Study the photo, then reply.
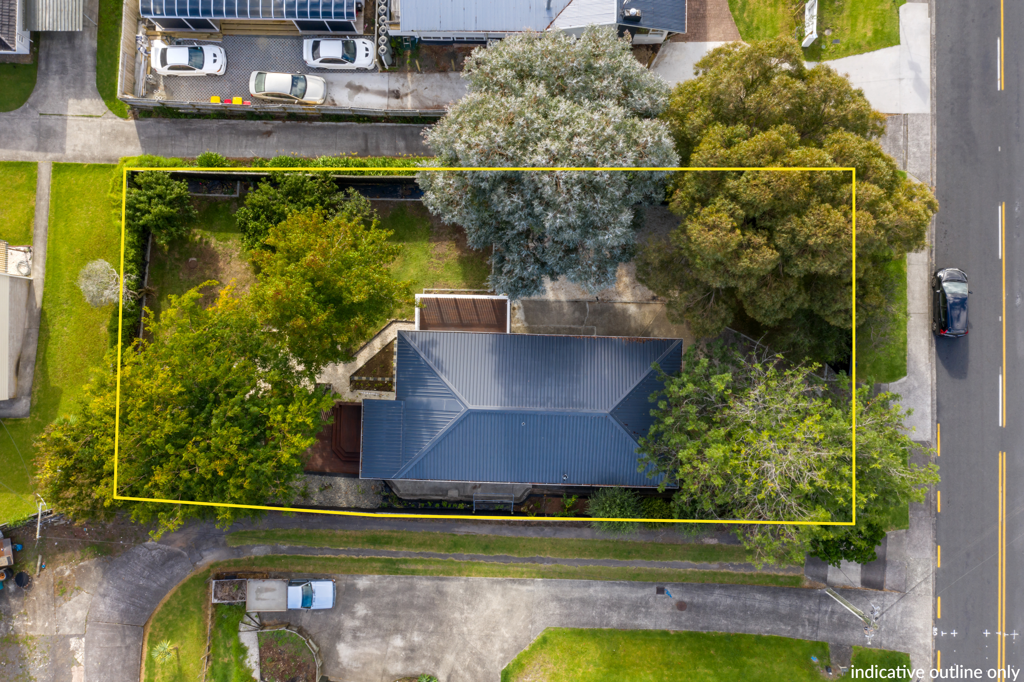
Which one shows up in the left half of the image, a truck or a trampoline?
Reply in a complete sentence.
The feature located in the left half of the image is a truck.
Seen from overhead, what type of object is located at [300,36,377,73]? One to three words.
car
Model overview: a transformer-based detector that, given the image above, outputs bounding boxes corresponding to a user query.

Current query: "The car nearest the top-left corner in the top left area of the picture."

[148,42,228,79]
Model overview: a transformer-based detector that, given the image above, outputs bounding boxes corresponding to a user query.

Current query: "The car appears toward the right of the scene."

[933,267,973,339]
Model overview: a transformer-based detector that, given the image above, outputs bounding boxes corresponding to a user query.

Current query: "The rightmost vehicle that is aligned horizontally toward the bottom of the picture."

[249,579,340,614]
